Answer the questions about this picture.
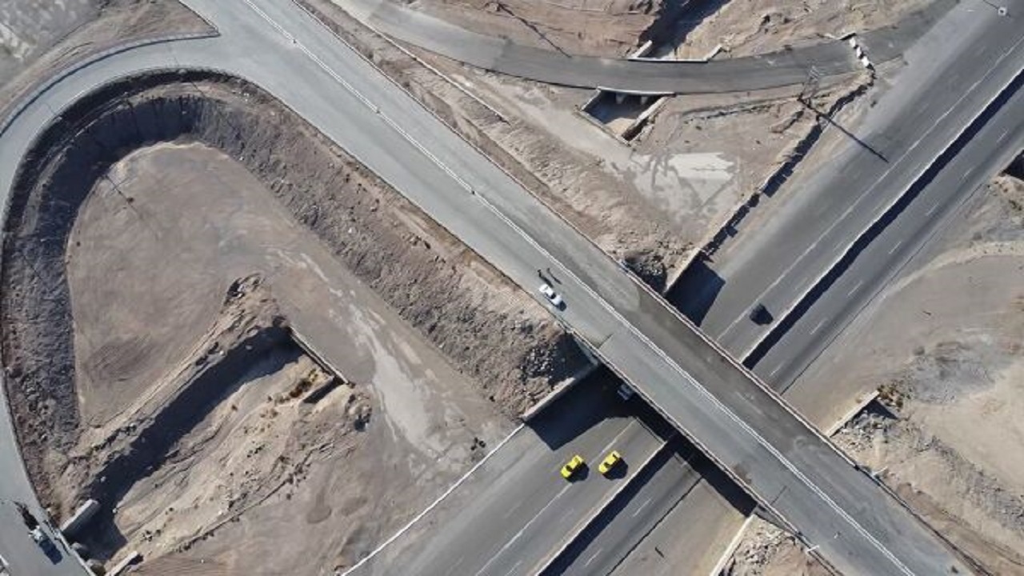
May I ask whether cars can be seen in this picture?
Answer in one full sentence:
Yes, a car can be made out from above.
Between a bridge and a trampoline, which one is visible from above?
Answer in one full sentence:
Looking from above, you can make out a bridge.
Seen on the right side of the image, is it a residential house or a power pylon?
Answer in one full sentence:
There is a power pylon on the right side of the image.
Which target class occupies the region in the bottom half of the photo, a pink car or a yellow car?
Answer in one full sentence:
The feature located in the bottom half of the photo is a yellow car.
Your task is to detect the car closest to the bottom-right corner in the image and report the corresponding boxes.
[749,304,768,322]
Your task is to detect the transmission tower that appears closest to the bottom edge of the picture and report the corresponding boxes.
[799,67,827,107]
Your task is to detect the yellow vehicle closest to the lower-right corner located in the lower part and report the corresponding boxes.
[599,452,621,475]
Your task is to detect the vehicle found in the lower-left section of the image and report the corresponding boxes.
[28,515,50,547]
